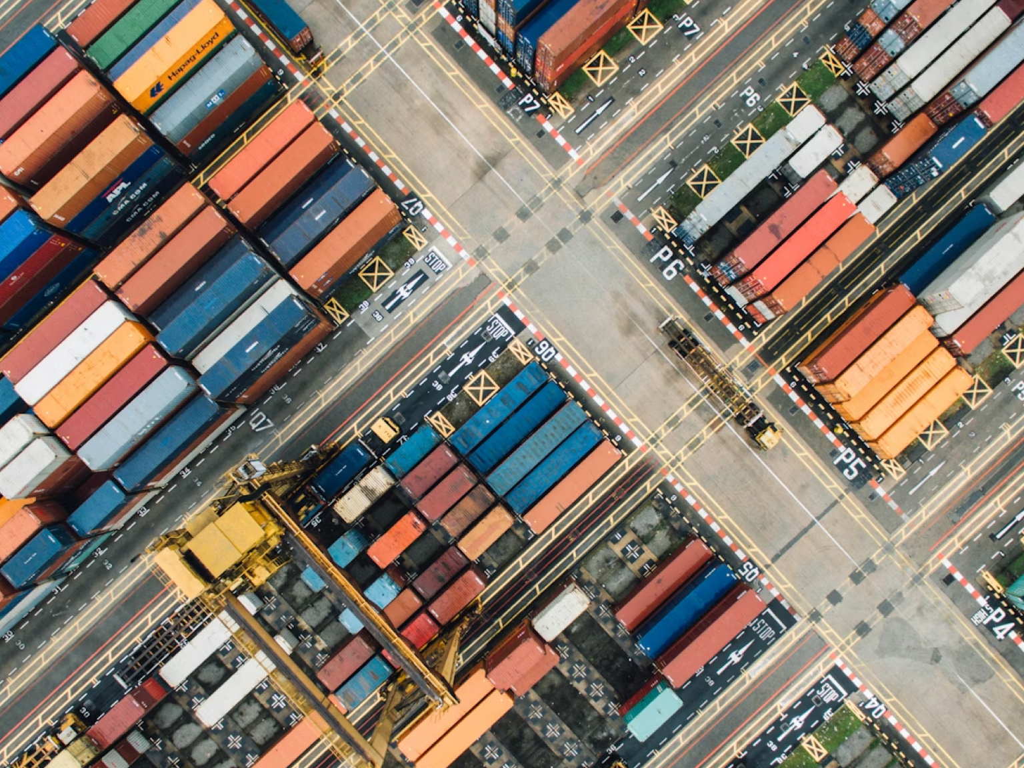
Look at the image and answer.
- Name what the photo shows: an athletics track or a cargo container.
cargo container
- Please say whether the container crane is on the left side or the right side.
left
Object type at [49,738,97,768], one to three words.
shipping container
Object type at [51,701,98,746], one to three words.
work vehicle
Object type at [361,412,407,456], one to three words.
work vehicle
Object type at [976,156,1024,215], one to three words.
shipping container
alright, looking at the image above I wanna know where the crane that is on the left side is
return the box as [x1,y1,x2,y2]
[142,438,484,768]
